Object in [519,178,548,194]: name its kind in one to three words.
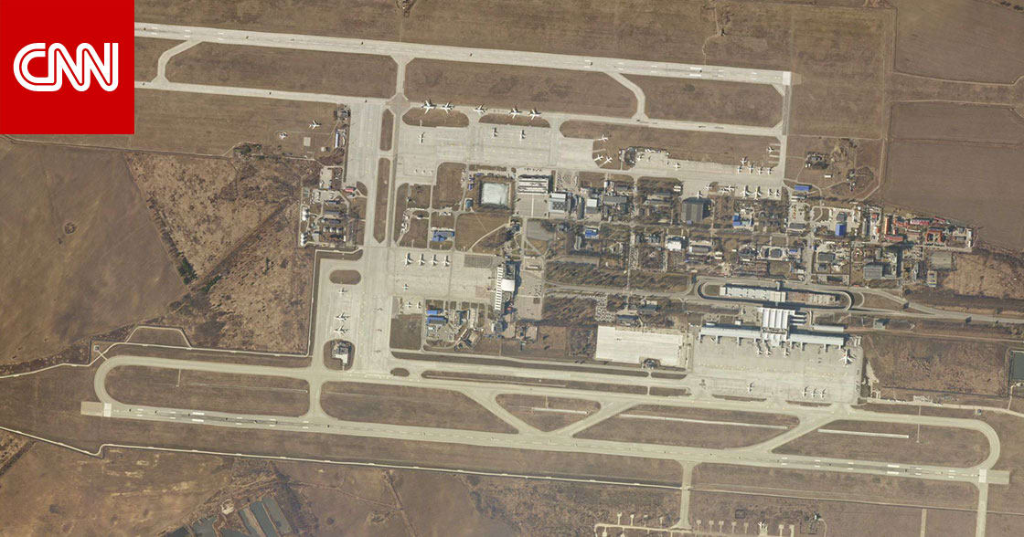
building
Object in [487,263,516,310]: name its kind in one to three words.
building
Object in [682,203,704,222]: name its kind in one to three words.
hangar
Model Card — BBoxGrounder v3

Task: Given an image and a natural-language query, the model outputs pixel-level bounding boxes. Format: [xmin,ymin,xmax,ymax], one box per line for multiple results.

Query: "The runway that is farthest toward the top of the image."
[16,13,791,86]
